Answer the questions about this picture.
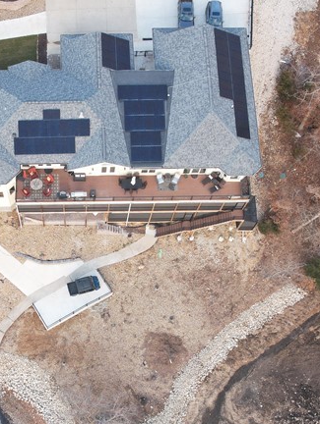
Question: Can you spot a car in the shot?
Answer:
Yes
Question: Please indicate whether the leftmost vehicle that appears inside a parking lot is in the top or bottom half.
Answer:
bottom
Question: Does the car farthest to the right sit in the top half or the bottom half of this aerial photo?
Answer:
top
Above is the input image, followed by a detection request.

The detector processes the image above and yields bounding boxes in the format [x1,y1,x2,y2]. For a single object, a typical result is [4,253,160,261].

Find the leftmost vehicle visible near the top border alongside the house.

[177,0,197,28]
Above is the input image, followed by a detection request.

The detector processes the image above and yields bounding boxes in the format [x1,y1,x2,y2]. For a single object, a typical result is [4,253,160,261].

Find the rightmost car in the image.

[205,0,227,28]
